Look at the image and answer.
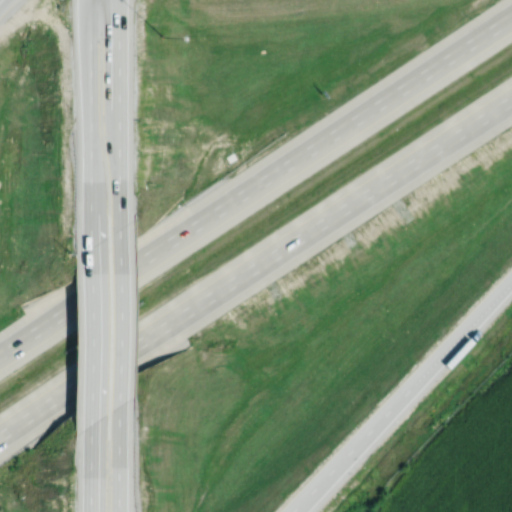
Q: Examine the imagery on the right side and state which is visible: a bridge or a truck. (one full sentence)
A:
The one visible on the right side is a truck.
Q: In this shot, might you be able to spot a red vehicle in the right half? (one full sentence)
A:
No, no red vehicle appears in the right half.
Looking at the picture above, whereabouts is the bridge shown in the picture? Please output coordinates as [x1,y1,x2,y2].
[68,222,140,433]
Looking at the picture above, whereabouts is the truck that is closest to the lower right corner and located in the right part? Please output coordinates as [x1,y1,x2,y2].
[446,331,478,369]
